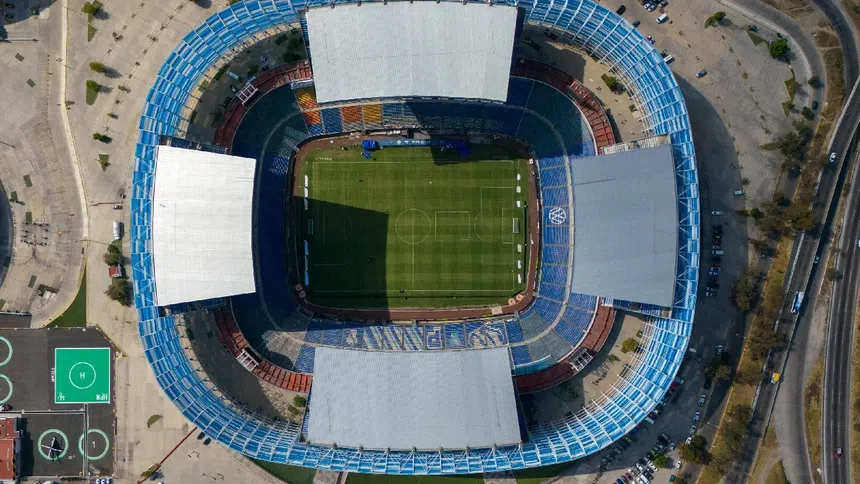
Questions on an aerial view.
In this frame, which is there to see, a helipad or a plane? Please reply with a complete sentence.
Of the two, only a helipad appears.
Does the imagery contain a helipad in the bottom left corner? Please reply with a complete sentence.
Yes, I can see a helipad in the bottom left corner.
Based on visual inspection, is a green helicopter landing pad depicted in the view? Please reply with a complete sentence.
Yes, the picture does show a green helicopter landing pad.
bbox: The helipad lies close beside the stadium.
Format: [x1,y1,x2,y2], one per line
[51,348,110,403]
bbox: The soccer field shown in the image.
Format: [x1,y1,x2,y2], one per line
[296,145,528,308]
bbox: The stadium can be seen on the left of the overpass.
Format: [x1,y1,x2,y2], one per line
[131,0,700,474]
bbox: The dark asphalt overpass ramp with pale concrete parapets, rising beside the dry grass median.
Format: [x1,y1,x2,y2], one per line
[729,74,860,484]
